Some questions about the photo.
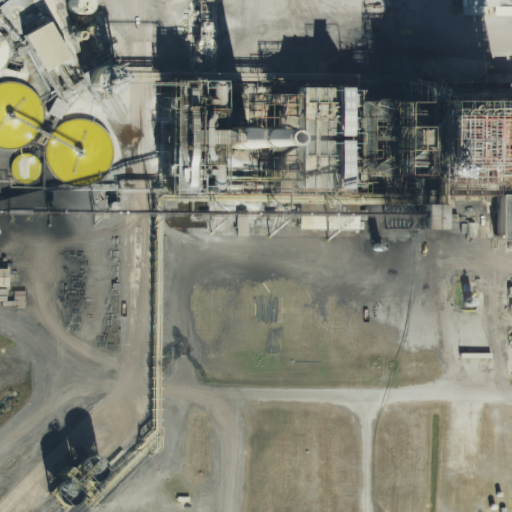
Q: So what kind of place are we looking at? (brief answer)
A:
industrial area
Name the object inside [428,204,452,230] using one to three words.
building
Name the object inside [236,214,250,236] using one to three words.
shed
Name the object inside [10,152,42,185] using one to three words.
storage tank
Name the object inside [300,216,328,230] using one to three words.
building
